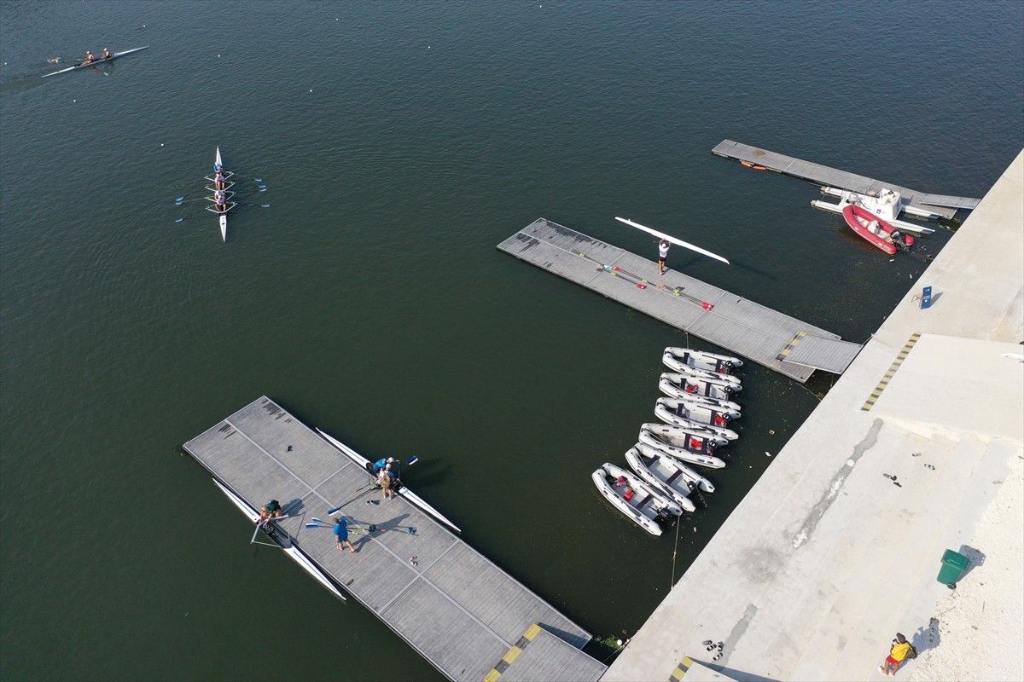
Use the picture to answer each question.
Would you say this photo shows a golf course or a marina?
marina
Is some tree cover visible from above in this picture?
No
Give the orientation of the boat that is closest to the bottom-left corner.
on a diagonal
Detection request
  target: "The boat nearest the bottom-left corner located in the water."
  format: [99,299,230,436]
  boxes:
[211,480,346,606]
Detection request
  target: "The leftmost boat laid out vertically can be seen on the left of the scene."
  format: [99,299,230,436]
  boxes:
[206,149,235,243]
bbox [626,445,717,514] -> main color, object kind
white boat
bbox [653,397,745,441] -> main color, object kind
white boat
